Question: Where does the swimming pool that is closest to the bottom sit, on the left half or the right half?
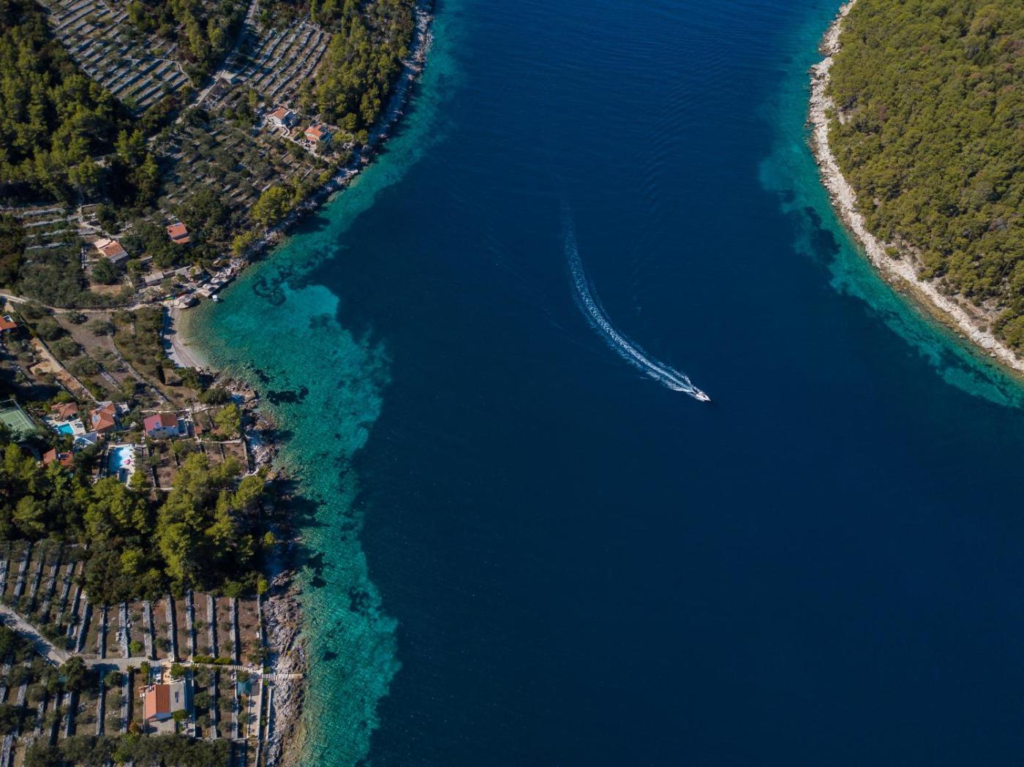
left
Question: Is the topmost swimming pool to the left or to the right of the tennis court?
on its right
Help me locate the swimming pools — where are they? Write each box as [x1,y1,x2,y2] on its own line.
[49,416,86,439]
[107,441,137,484]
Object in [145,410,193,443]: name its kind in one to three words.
house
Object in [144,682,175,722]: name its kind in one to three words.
house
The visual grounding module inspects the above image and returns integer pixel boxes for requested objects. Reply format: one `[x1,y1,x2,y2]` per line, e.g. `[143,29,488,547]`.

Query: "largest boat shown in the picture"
[691,385,710,398]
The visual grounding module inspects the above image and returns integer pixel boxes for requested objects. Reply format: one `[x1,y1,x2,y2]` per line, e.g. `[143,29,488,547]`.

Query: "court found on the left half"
[0,392,46,455]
